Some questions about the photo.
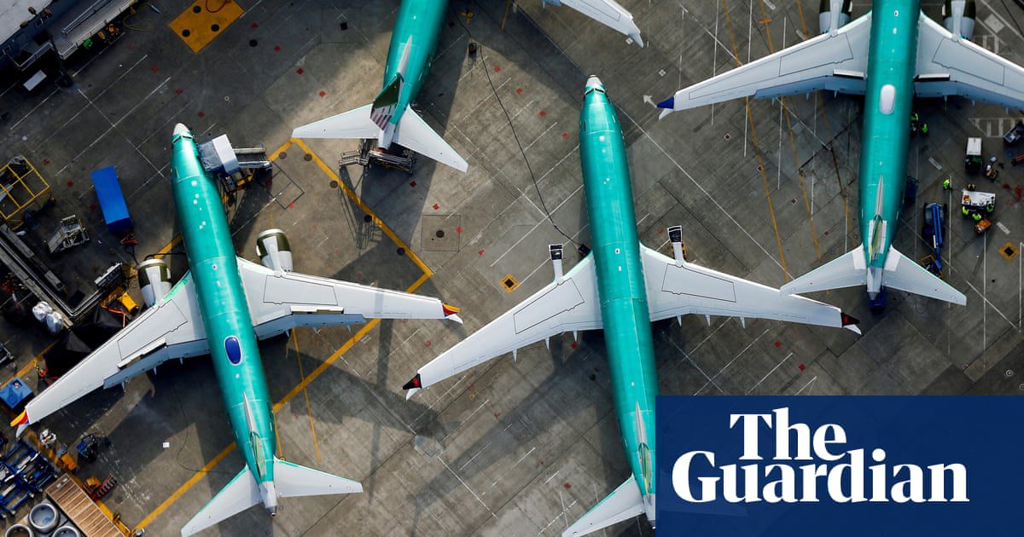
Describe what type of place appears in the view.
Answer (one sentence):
The area seen from above is an airport.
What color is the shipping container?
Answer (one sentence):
The shipping container is blue.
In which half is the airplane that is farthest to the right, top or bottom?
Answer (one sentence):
The top half of the photo is where the airplane that is farthest to the right is.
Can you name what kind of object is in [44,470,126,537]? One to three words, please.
trailer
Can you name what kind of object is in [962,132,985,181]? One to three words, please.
truck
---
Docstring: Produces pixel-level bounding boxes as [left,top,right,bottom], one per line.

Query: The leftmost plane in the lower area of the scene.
[12,123,462,537]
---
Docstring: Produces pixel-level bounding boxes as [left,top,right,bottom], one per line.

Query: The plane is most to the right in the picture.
[658,0,1024,306]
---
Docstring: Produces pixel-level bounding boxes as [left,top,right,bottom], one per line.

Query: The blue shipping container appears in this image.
[91,167,138,243]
